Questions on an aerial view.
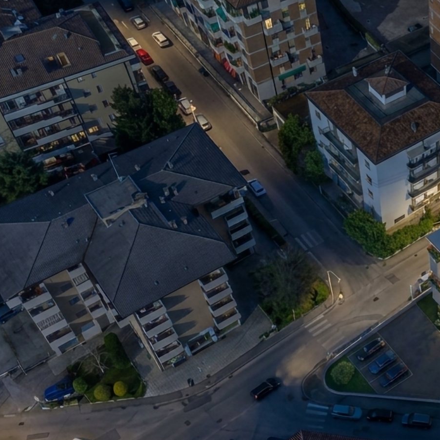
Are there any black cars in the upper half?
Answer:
Yes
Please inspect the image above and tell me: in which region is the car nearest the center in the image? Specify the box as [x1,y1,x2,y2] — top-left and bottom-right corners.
[248,178,265,198]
